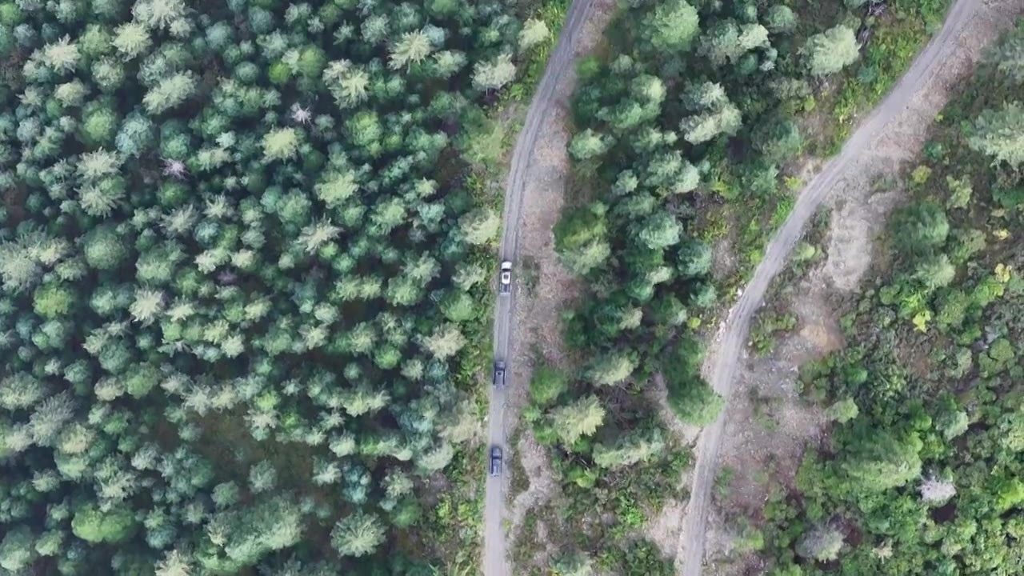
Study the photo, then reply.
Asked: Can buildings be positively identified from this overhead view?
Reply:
No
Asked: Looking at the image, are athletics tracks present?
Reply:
No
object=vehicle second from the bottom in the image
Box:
[493,360,506,390]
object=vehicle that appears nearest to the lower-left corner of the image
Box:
[490,446,503,477]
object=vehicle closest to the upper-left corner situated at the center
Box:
[499,261,513,295]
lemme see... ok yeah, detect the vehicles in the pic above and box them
[490,446,503,477]
[499,261,513,295]
[493,360,506,390]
